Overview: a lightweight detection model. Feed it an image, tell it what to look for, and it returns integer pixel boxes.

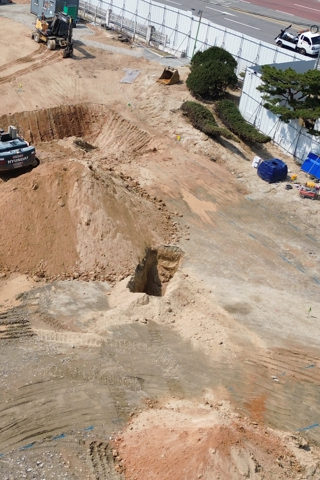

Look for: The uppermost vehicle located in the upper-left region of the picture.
[30,7,75,59]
